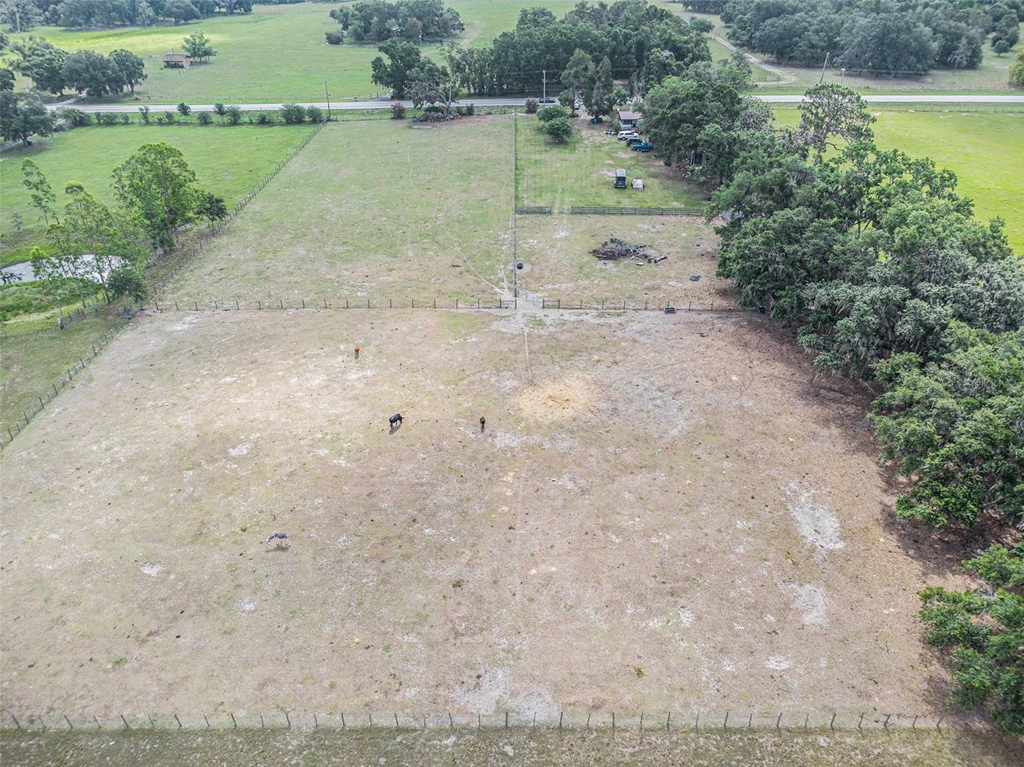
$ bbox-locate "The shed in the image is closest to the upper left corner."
[160,52,196,66]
